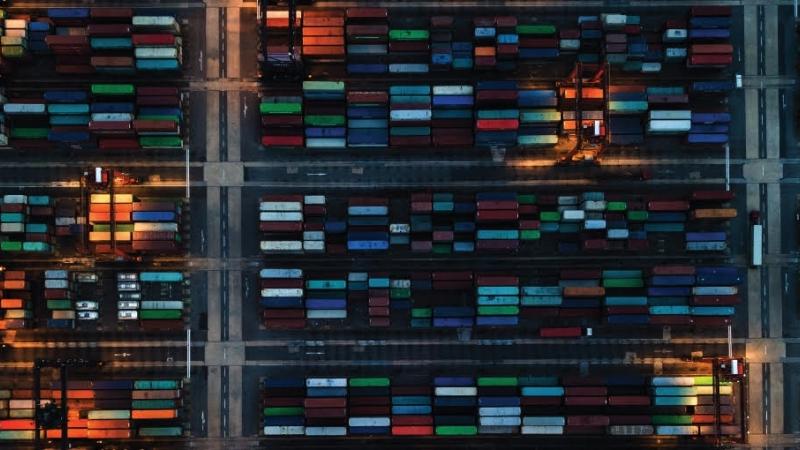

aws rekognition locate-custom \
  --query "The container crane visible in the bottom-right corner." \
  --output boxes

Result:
[680,355,752,445]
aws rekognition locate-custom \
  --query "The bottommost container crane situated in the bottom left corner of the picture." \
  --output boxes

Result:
[32,359,101,450]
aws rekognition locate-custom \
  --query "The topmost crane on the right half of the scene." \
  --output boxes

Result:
[552,59,610,165]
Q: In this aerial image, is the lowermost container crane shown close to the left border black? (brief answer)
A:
Yes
